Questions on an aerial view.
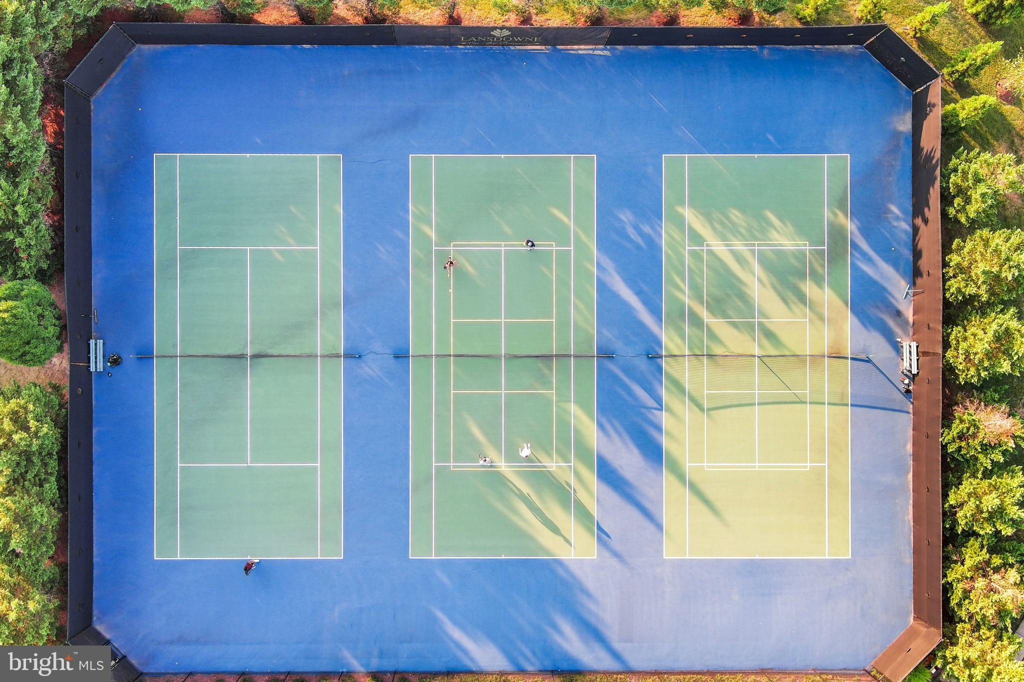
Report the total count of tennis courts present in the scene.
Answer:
three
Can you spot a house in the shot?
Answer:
No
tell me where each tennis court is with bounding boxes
[663,154,851,559]
[409,154,597,559]
[154,154,342,560]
